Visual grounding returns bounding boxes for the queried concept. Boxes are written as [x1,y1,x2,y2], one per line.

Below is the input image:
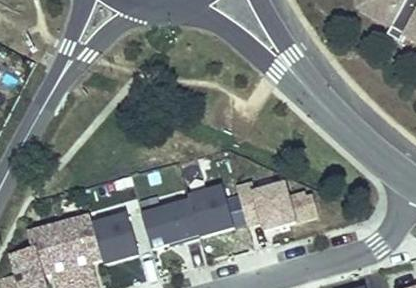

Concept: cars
[394,277,414,288]
[216,265,238,277]
[284,247,306,259]
[190,244,202,267]
[389,254,410,266]
[330,235,352,246]
[254,230,266,248]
